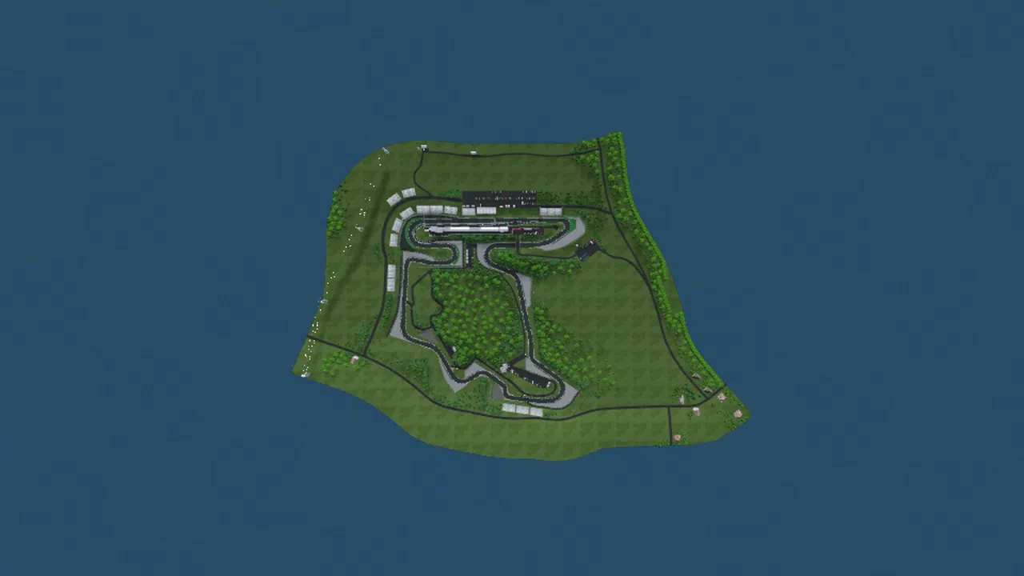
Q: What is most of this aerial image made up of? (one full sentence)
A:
The bulk of the photo consists of water.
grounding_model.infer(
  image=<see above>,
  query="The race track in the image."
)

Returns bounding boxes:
[401,218,570,403]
